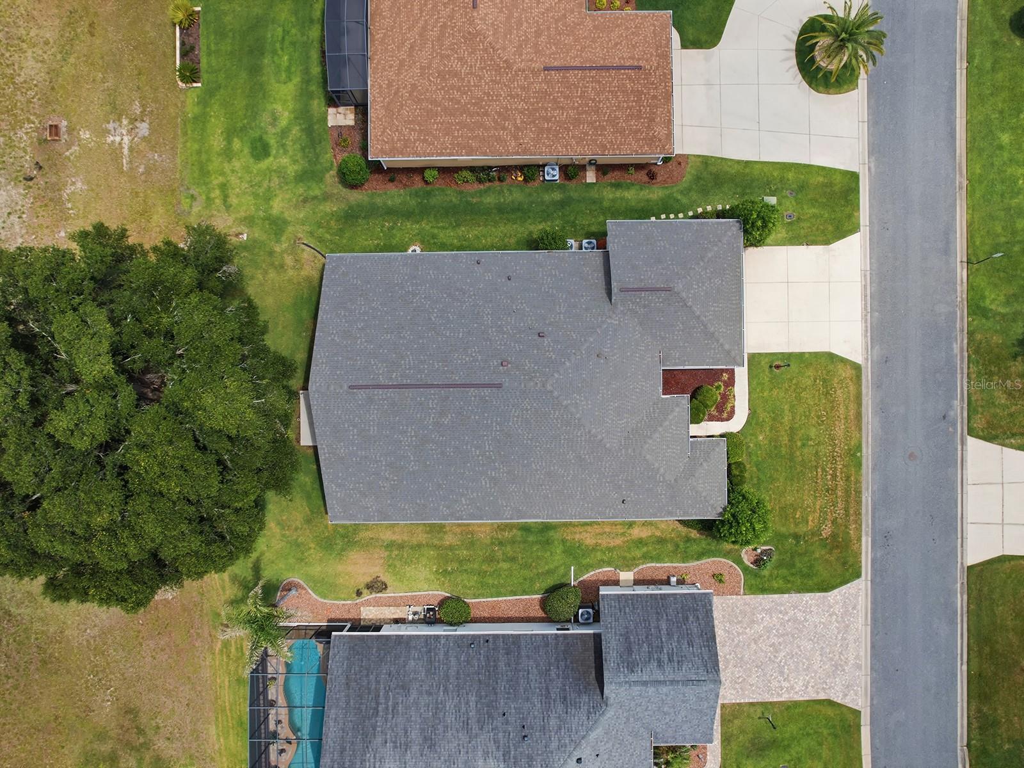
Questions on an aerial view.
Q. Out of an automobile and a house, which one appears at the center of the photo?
house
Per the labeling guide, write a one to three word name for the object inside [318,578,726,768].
house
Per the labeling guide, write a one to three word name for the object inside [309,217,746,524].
house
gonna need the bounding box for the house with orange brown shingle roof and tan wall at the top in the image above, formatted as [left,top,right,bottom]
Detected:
[367,0,675,173]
